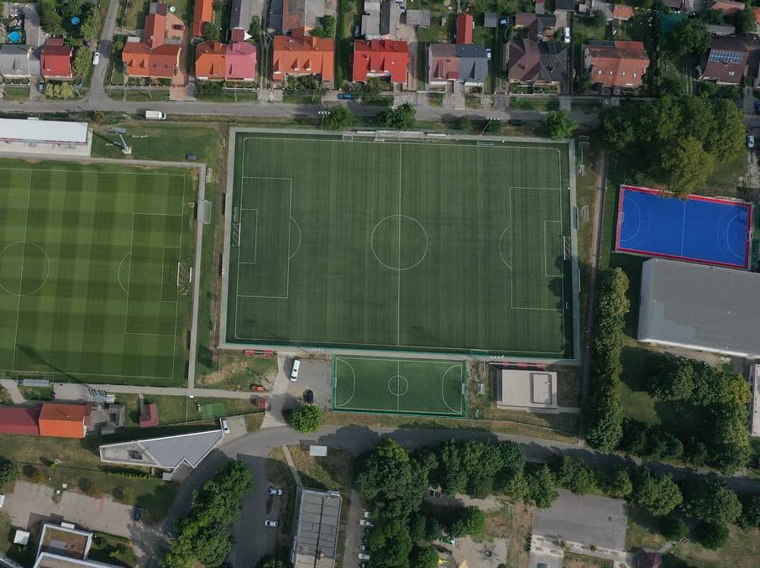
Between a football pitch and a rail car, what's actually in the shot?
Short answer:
football pitch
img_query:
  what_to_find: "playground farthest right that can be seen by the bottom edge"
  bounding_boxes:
[443,536,511,568]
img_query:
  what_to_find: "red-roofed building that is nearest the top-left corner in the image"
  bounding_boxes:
[40,38,74,81]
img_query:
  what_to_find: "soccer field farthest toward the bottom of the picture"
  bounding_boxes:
[330,354,467,418]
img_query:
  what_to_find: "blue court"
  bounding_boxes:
[616,184,754,269]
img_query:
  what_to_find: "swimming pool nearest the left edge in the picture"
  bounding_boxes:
[8,30,22,44]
